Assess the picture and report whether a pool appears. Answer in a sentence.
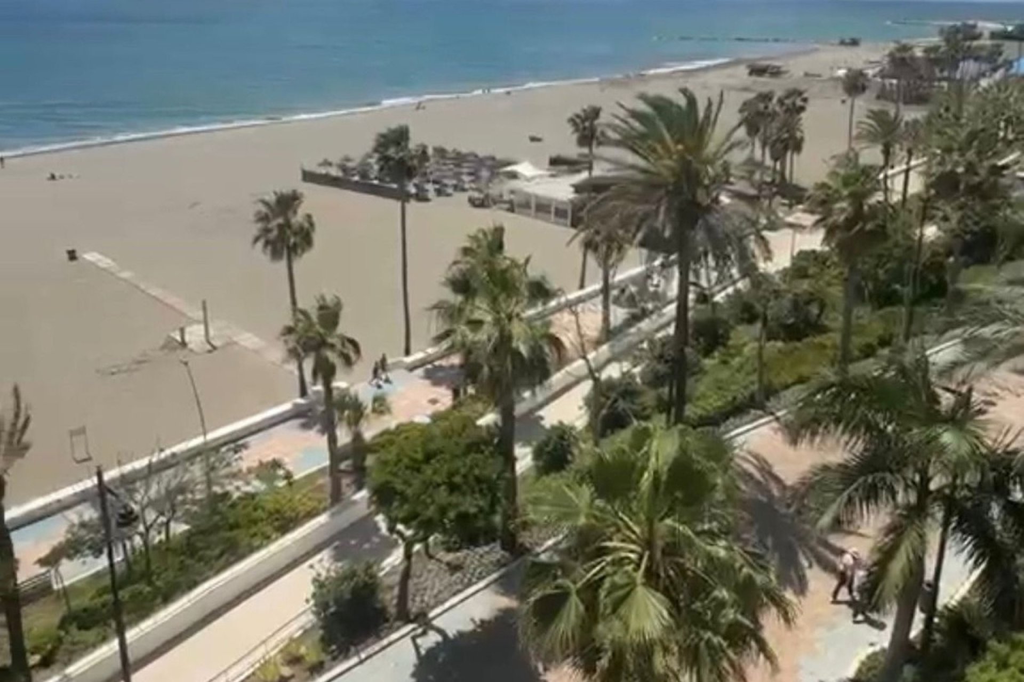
No, the picture doesn't show any pool.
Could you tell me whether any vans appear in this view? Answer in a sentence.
No, I can't see a single van in this photo.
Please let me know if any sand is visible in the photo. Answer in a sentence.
Yes, sand can be seen from above here.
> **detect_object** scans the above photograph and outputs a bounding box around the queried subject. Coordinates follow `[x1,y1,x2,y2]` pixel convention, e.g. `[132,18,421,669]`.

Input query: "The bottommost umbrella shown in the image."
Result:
[779,211,816,246]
